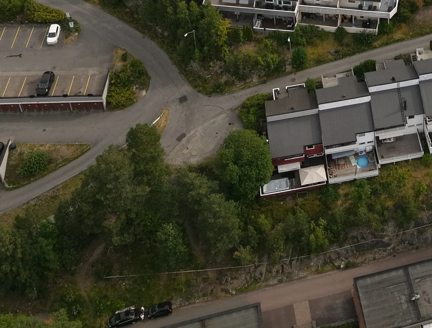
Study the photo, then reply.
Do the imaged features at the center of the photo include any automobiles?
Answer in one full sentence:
No, no automobile is visible at the center of the photo.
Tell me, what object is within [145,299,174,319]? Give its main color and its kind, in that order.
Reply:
black car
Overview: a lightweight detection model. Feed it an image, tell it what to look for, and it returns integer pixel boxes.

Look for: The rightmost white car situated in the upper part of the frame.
[45,24,60,43]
